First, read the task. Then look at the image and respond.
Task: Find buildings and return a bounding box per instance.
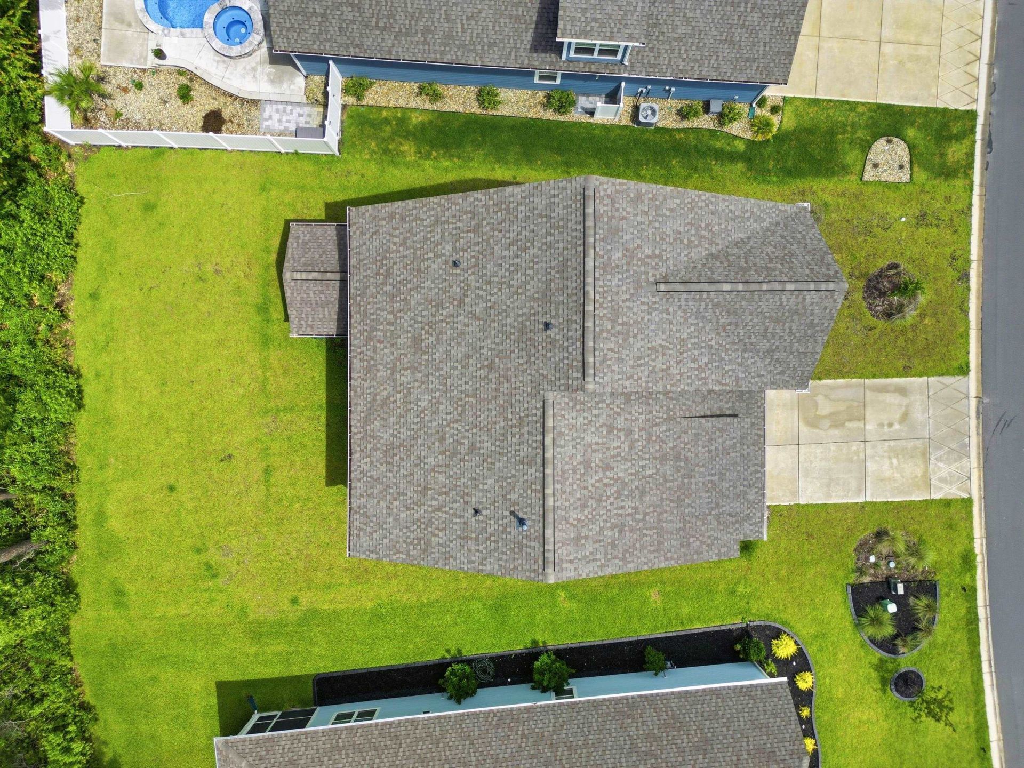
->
[211,660,808,768]
[268,0,805,111]
[281,174,848,582]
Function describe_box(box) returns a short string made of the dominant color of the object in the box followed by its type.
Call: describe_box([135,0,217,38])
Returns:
blue swimming pool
